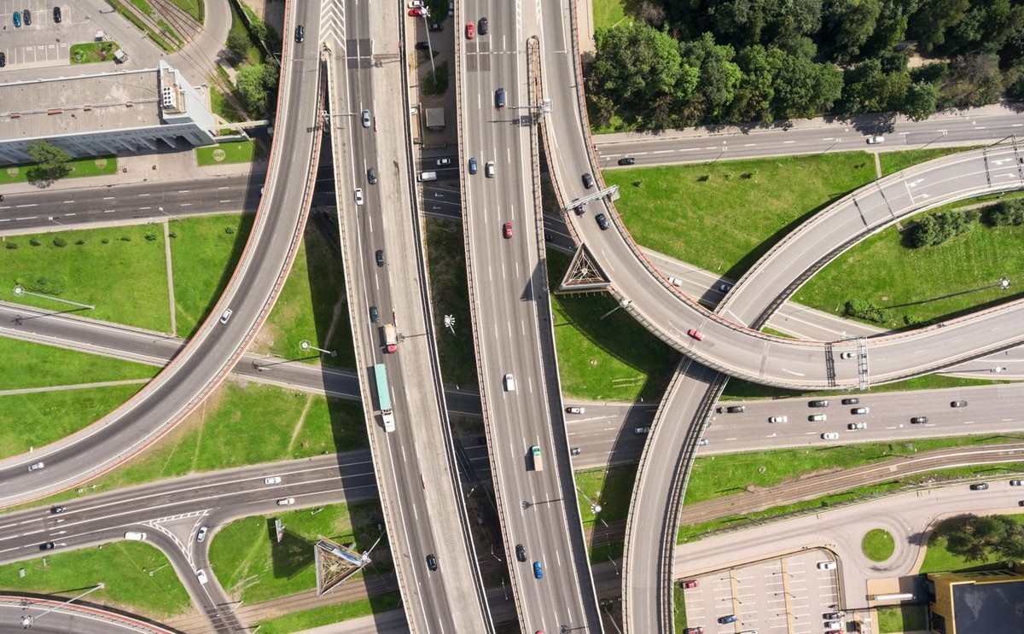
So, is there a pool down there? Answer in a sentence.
No, there isn't any pool down there.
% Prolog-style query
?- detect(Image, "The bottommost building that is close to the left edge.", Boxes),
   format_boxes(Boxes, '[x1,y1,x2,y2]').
[0,58,223,173]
